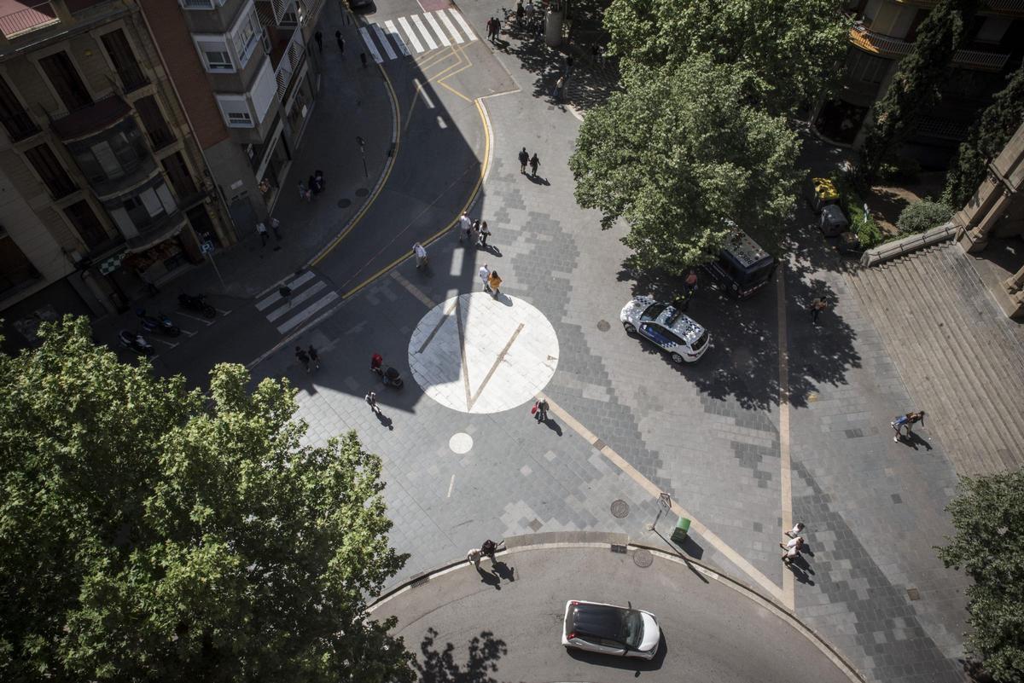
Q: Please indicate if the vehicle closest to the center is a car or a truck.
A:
car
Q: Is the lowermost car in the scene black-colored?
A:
Yes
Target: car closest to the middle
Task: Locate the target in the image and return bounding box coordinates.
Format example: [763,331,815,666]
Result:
[620,295,711,366]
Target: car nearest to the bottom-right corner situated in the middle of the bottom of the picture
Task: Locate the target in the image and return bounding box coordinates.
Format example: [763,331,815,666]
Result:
[562,608,657,671]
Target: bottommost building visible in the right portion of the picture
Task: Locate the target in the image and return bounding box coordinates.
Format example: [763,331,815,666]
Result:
[952,190,1024,347]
